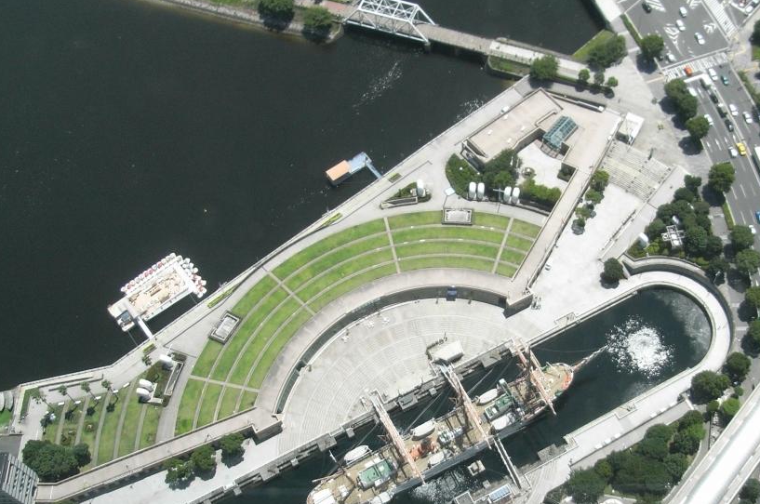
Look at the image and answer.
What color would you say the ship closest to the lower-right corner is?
white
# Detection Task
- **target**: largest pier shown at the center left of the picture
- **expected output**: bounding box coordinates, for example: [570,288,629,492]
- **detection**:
[108,262,199,332]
